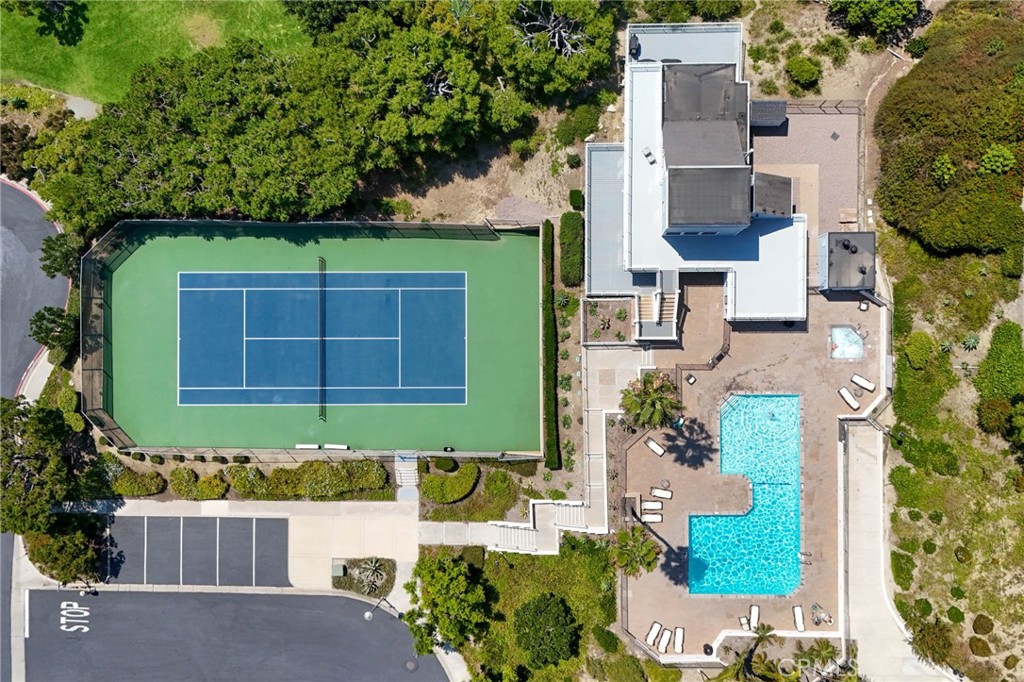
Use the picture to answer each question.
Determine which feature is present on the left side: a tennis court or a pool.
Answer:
tennis court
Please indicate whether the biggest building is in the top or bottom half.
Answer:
top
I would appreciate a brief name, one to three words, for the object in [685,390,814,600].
swimming pool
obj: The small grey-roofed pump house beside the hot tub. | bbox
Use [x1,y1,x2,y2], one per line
[816,232,877,290]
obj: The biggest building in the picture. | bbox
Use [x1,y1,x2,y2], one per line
[584,20,812,340]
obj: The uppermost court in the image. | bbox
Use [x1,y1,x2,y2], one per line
[103,220,543,459]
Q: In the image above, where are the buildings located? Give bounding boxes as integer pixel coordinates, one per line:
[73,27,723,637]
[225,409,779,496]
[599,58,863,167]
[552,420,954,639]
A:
[816,232,877,290]
[584,20,812,340]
